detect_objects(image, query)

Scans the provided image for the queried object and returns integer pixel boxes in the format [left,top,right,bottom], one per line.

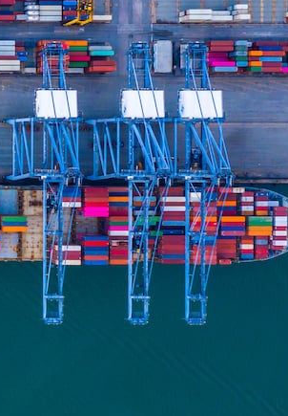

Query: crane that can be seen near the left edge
[5,39,84,324]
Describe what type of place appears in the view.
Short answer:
port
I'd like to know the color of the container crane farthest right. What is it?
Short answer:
blue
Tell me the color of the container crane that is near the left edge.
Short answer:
blue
